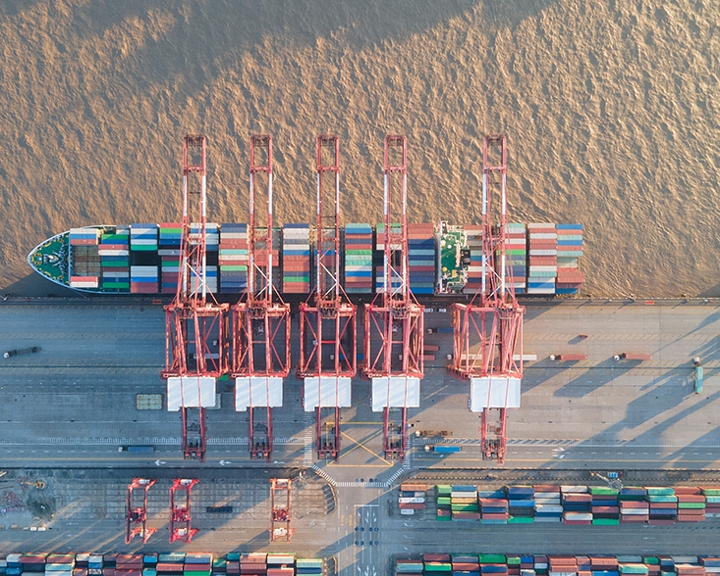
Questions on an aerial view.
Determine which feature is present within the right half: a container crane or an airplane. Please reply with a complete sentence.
You can see a container crane within the right half.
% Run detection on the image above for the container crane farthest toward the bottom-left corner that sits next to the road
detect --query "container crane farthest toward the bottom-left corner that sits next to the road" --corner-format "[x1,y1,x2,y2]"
[125,477,158,543]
